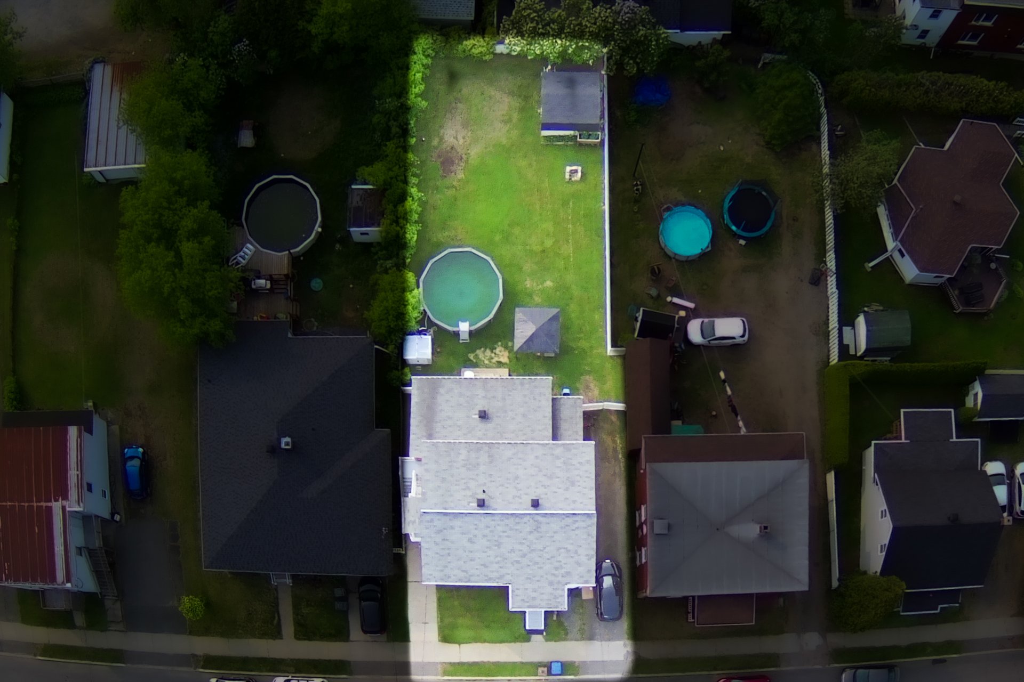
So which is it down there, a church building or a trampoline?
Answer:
trampoline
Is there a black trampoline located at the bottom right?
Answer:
No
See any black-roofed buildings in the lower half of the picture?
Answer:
Yes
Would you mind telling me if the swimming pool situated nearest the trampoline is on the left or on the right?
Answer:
right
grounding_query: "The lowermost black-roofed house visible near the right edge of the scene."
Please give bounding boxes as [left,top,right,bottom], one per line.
[863,409,1013,615]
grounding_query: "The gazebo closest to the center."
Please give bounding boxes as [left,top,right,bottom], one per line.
[515,307,559,361]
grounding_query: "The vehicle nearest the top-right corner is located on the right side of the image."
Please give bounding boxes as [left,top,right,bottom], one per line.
[687,315,748,348]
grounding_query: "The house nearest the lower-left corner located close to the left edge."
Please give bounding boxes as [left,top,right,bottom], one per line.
[0,411,140,609]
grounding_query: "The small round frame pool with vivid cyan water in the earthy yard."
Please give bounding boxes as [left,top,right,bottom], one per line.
[654,202,715,266]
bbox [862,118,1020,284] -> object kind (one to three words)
house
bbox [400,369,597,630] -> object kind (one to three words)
house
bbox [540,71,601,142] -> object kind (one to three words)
shed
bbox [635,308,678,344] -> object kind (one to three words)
trailer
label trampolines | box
[721,172,782,238]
